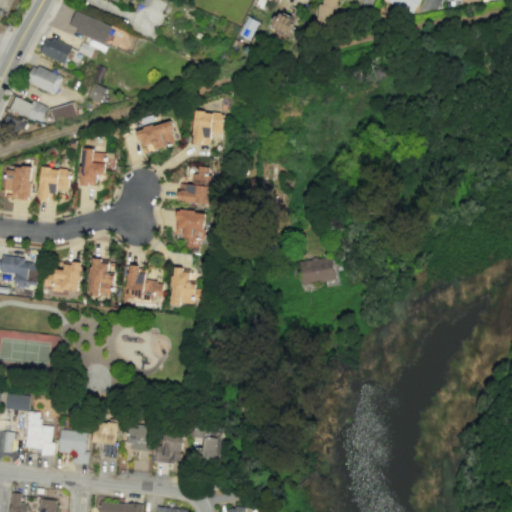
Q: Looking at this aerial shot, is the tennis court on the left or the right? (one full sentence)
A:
You can find the tennis court on the left side of the picture.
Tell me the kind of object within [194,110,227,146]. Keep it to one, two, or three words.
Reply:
house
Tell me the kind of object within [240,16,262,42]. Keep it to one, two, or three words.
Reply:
building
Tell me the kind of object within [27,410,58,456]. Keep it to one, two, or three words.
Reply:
building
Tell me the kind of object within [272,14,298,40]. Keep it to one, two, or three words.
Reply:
house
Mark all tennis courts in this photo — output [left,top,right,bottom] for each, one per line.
[0,330,62,368]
